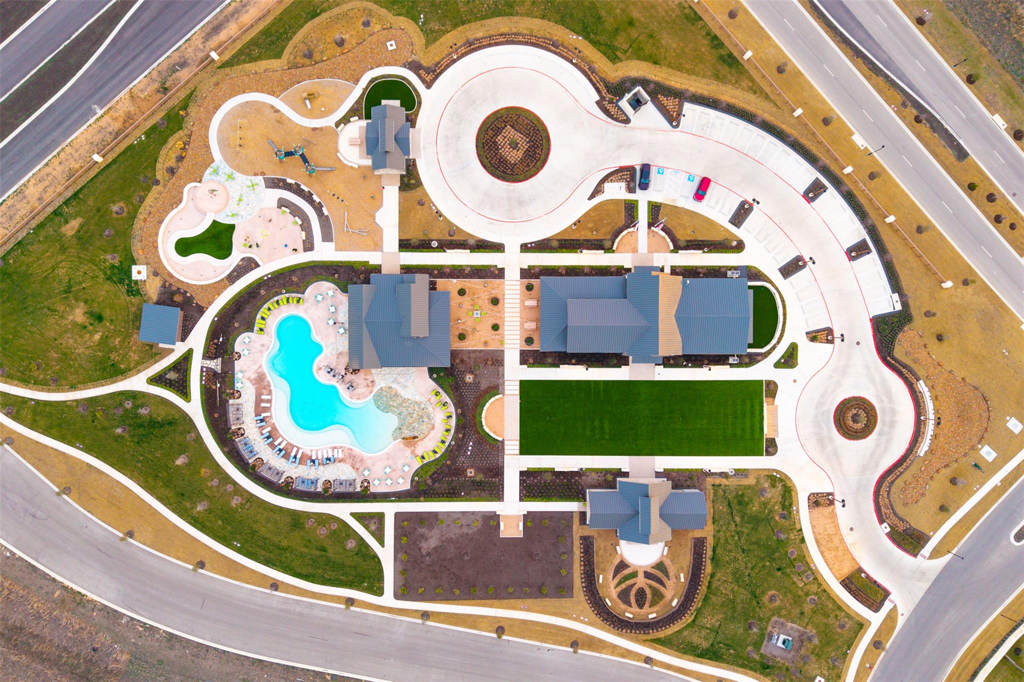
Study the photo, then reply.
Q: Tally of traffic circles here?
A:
2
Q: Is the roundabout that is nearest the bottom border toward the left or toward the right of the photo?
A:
right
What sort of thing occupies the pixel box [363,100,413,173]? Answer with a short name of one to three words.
building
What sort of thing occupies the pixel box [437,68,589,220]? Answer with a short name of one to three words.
roundabout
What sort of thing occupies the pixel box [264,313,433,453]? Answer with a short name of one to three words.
swimming pool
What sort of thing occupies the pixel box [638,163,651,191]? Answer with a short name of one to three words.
vehicle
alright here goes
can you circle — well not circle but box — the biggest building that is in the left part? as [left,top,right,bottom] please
[345,273,450,369]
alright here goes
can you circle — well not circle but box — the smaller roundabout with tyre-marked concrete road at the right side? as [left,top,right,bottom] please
[797,360,914,477]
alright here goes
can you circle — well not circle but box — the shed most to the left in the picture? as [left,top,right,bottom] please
[140,304,185,345]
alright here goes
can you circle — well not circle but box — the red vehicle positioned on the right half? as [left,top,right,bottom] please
[694,176,712,203]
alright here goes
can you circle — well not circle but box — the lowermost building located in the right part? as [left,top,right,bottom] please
[589,480,710,550]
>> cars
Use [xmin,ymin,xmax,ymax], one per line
[694,176,712,203]
[638,163,651,191]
